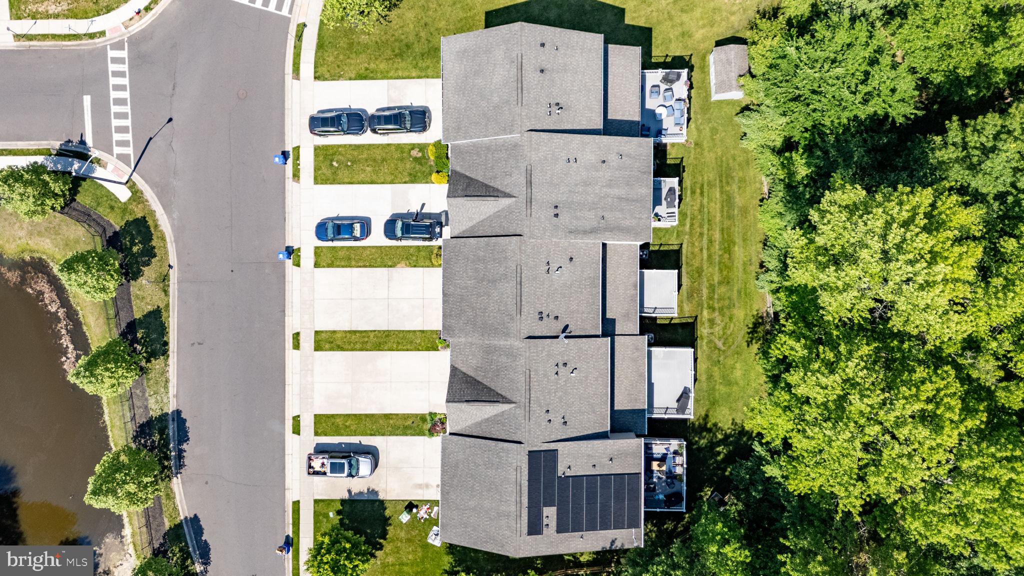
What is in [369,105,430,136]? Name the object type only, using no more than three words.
car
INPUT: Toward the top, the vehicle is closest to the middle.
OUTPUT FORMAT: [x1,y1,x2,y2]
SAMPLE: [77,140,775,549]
[380,206,446,245]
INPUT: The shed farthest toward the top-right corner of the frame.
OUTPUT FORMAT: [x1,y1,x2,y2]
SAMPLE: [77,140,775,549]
[709,45,748,101]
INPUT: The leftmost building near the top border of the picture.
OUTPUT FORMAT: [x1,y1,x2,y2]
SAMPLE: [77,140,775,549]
[440,23,642,146]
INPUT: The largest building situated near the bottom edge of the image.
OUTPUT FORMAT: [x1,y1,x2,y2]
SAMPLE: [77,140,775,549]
[439,432,644,556]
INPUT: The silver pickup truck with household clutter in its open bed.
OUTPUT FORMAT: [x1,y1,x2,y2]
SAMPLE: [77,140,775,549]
[306,450,377,481]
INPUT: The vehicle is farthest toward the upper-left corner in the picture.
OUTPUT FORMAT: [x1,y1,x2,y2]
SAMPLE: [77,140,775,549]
[308,108,370,139]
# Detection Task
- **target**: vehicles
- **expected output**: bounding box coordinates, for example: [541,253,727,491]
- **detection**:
[306,450,377,481]
[369,105,430,136]
[308,108,370,139]
[380,206,446,245]
[314,217,371,245]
